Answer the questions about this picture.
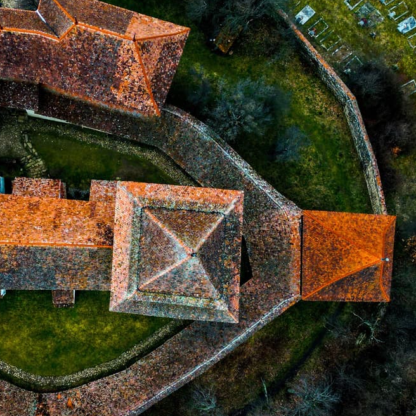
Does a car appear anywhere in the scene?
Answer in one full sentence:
No, the photo shows no car.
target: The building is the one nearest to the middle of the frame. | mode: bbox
[108,179,246,324]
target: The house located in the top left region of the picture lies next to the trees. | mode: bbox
[0,0,191,118]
